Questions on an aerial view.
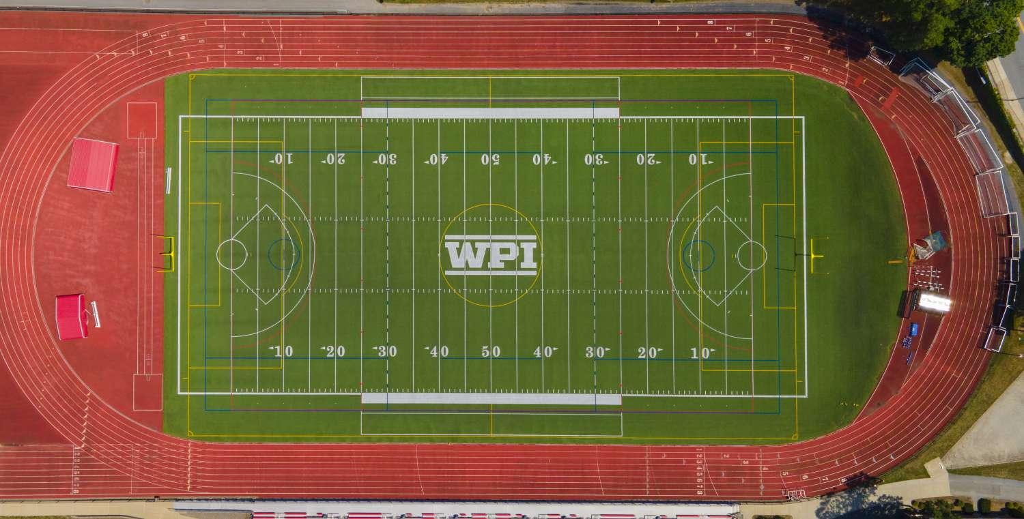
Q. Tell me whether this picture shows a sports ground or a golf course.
sports ground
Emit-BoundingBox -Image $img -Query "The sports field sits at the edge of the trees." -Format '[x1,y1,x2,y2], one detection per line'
[162,68,910,445]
